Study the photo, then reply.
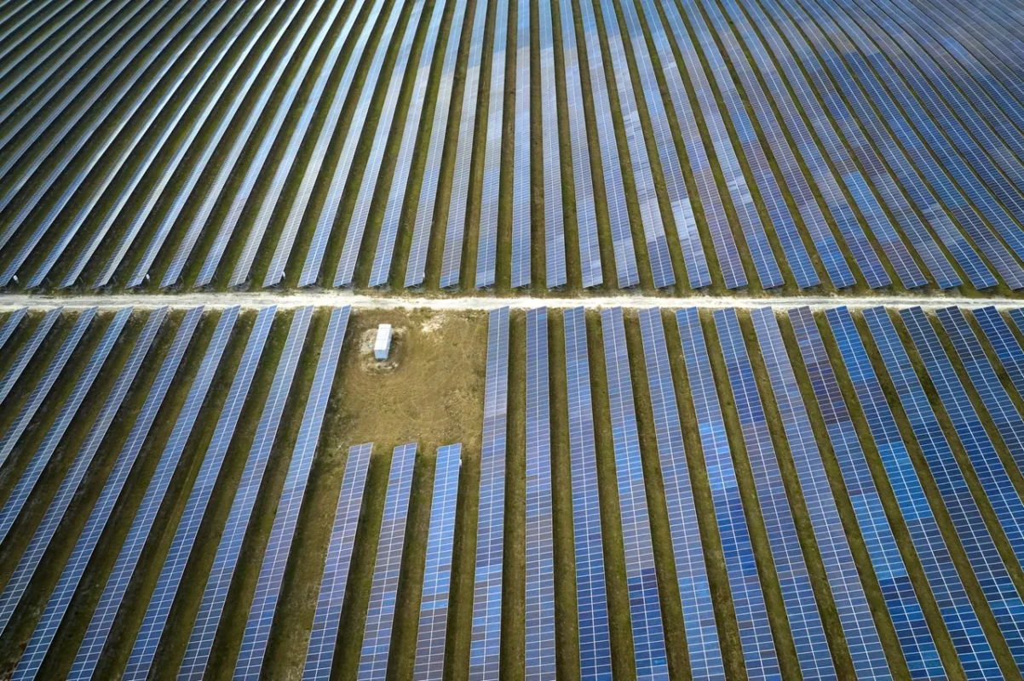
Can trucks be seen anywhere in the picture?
No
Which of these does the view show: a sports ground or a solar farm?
solar farm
